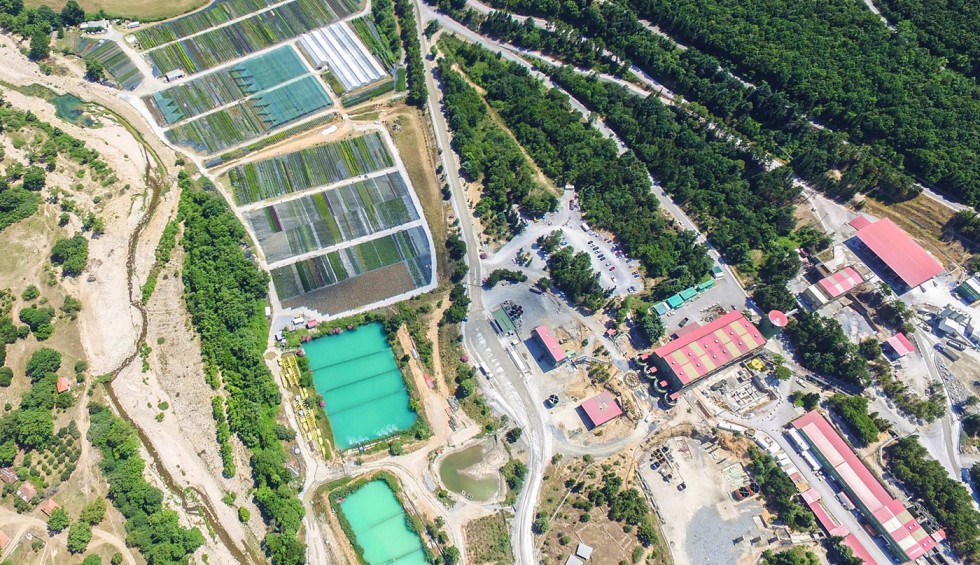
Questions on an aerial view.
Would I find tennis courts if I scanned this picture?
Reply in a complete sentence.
No, the photo shows no tennis court.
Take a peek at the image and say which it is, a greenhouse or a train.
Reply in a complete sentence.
It is a greenhouse that can be seen here.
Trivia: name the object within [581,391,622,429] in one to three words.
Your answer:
shed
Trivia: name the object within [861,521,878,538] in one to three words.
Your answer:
vehicle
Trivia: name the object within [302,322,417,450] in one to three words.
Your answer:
pond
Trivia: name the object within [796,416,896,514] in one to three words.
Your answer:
building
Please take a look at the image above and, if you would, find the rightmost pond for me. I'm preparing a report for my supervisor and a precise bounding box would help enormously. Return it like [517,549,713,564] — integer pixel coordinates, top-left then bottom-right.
[441,446,499,502]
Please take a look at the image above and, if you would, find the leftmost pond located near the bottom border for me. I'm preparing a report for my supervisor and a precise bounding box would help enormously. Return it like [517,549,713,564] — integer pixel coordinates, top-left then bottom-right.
[341,479,427,565]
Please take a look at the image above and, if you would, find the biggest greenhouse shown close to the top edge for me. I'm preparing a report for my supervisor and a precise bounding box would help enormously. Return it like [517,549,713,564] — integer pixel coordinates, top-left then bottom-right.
[300,20,388,93]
